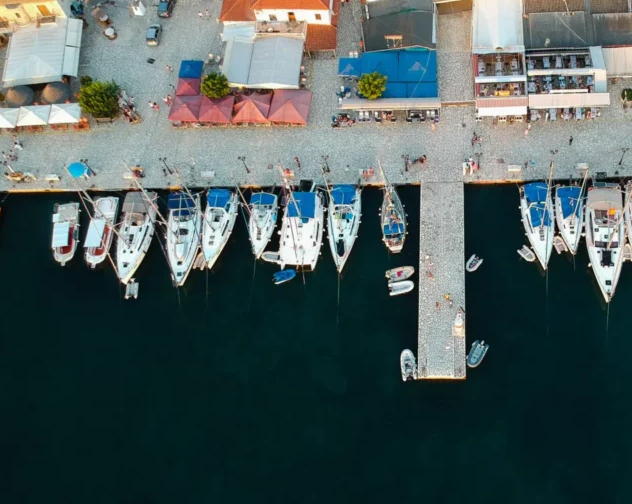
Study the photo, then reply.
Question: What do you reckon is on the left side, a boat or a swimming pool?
boat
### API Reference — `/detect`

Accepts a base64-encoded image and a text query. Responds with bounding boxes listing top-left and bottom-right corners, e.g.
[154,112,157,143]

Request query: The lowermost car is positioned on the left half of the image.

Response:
[145,26,160,46]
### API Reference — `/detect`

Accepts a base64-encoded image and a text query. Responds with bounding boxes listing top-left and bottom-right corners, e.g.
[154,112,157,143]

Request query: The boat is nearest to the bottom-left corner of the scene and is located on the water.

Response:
[125,282,137,300]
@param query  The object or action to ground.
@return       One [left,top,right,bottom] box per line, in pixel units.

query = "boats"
[384,266,414,281]
[624,242,632,262]
[467,338,493,368]
[51,192,83,268]
[71,164,163,295]
[401,350,417,383]
[84,190,122,271]
[321,161,365,275]
[517,243,536,261]
[467,253,483,271]
[555,236,570,256]
[378,165,406,258]
[129,161,204,288]
[275,159,324,289]
[520,156,559,272]
[125,282,137,300]
[585,167,632,307]
[173,164,239,272]
[555,169,589,257]
[272,270,296,285]
[386,281,414,296]
[236,178,280,268]
[193,250,205,271]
